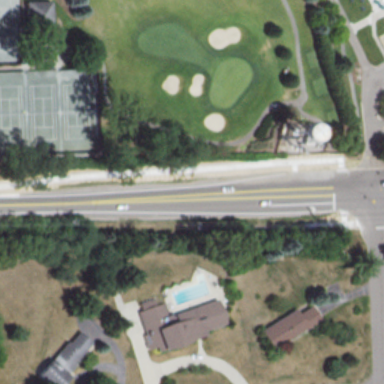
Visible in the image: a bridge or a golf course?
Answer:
golf course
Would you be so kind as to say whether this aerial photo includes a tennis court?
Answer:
Yes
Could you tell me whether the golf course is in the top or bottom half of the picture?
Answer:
top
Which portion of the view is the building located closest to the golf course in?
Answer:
top left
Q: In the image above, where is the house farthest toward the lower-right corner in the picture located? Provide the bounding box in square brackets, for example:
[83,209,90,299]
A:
[266,303,322,344]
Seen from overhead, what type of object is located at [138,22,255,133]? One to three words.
golf course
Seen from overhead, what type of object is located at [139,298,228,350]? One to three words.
house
